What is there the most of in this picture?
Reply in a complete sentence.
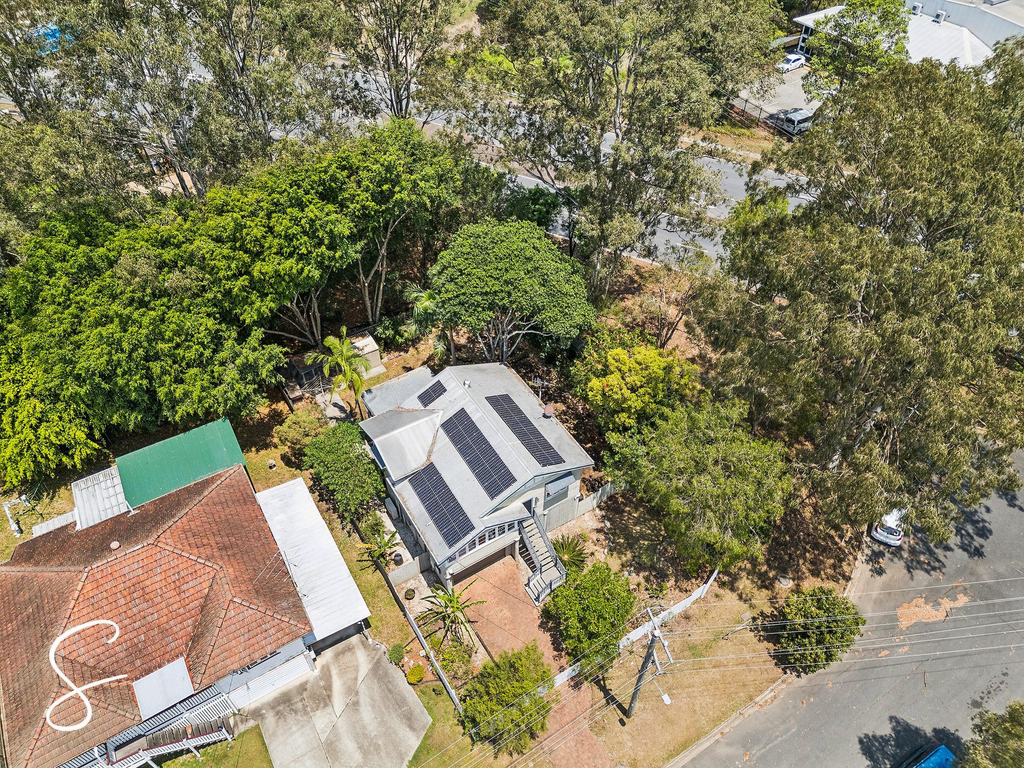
The largest share of the image is taken up by trees.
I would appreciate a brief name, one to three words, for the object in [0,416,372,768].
house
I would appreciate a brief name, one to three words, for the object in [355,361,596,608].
house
